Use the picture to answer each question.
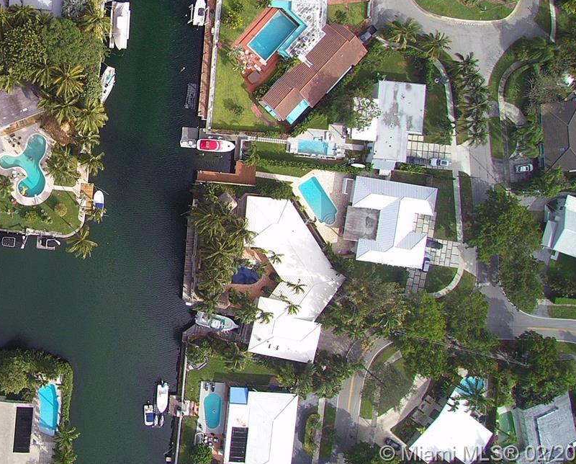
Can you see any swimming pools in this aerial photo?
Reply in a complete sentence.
Yes, a swimming pool can be made out from above.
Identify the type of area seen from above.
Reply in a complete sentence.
This looks like a residential area.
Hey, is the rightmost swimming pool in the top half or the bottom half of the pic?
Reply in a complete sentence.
It is in the bottom half that the rightmost swimming pool appears.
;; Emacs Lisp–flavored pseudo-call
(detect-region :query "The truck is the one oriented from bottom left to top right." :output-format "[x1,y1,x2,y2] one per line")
[356,23,379,44]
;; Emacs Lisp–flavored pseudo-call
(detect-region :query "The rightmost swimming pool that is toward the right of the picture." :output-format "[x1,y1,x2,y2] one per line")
[454,376,485,399]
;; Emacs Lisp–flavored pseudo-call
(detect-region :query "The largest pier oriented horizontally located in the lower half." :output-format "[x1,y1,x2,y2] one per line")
[180,322,252,345]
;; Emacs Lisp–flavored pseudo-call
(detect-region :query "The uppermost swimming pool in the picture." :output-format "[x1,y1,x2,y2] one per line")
[245,10,298,62]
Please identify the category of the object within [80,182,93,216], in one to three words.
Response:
pier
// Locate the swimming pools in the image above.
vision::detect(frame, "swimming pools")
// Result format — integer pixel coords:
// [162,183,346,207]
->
[297,176,339,226]
[245,10,298,62]
[296,137,328,155]
[0,131,48,199]
[36,382,60,437]
[231,266,262,286]
[202,393,224,430]
[454,376,485,399]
